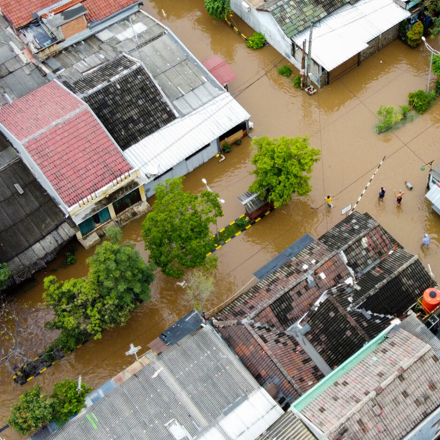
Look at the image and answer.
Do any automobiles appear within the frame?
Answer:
No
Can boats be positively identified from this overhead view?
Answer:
No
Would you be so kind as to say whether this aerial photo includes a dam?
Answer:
No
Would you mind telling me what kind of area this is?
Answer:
residential area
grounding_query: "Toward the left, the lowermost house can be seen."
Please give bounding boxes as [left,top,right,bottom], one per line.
[31,309,284,440]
